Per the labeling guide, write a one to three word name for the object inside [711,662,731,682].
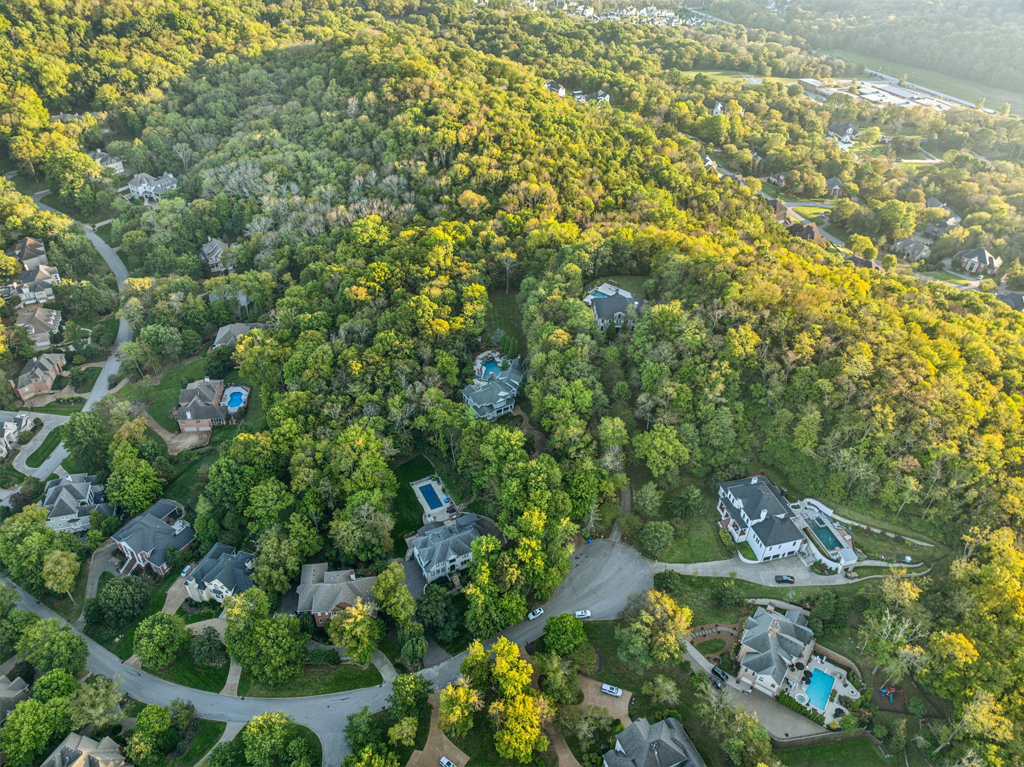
car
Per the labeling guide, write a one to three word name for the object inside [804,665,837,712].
swimming pool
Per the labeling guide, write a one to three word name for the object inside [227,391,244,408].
swimming pool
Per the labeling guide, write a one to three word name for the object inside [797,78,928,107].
building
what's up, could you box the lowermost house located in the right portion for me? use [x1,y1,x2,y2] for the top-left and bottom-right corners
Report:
[601,715,709,767]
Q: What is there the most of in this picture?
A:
trees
